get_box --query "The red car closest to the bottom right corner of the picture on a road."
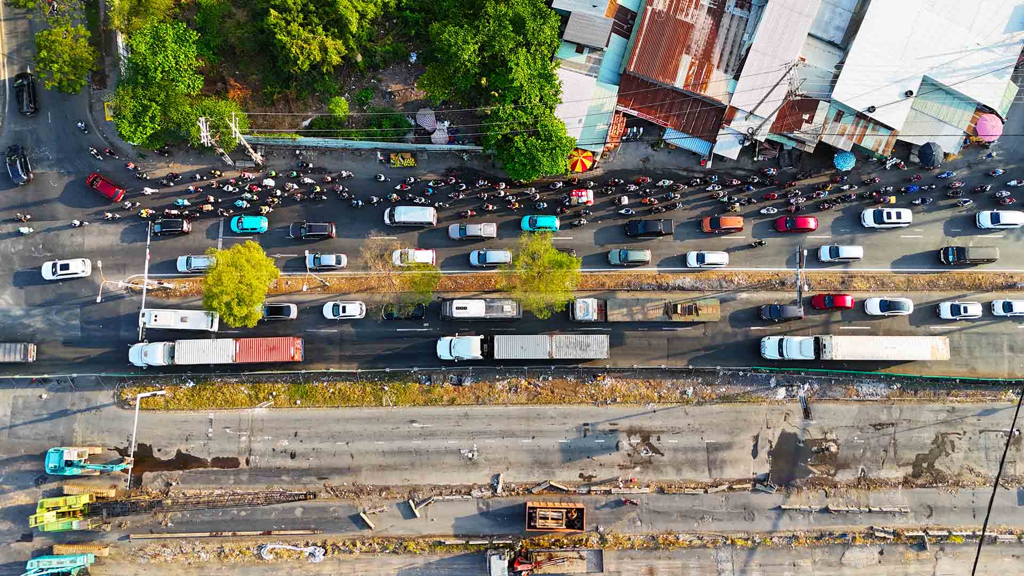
[811,292,855,312]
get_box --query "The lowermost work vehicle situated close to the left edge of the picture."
[45,445,138,476]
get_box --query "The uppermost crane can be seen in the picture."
[29,484,316,534]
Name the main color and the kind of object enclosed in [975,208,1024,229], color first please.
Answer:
white car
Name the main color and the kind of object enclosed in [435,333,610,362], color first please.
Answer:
white truck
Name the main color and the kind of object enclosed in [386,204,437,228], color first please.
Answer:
white vehicle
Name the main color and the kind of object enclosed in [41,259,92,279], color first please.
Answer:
white car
